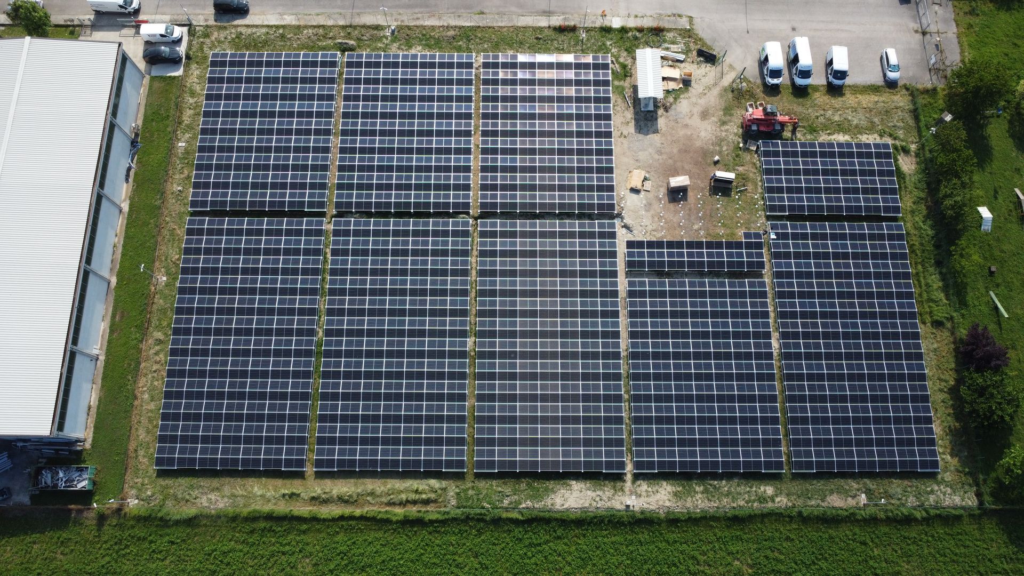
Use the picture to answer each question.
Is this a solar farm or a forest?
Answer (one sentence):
The picture captures a solar farm.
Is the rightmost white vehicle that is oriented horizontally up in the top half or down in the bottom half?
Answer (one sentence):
The top half of the photo is where the rightmost white vehicle that is oriented horizontally is.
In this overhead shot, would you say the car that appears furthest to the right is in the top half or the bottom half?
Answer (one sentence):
You can find the car that appears furthest to the right in the top half.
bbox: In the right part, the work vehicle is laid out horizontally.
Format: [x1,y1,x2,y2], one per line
[742,106,807,135]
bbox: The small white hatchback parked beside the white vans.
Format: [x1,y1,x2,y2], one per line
[879,50,902,82]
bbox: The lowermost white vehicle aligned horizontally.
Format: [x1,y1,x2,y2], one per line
[139,22,182,43]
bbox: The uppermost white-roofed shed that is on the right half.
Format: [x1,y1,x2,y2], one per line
[633,48,663,110]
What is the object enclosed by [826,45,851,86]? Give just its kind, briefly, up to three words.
vehicle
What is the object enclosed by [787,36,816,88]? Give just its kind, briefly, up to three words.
van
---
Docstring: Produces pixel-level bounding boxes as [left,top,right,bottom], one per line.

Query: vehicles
[212,0,251,12]
[142,43,183,64]
[759,39,788,88]
[826,45,851,86]
[139,22,182,43]
[879,50,902,82]
[787,36,816,88]
[742,106,807,135]
[84,0,141,13]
